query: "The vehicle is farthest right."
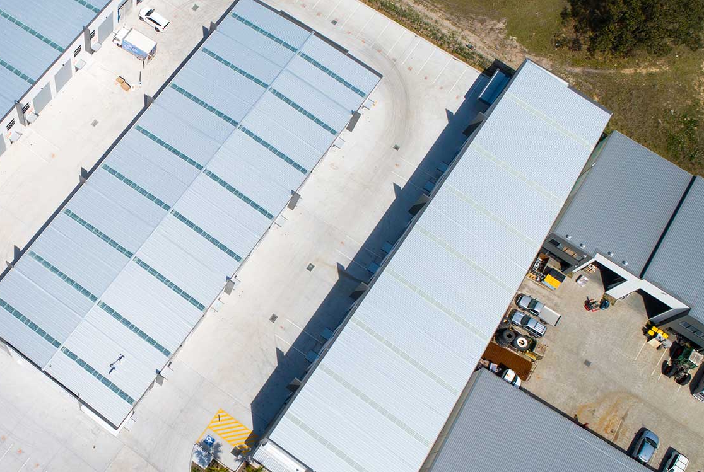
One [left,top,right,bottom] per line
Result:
[655,345,704,387]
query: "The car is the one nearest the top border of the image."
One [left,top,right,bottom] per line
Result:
[137,8,170,32]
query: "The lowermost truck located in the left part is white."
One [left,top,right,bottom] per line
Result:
[110,28,164,62]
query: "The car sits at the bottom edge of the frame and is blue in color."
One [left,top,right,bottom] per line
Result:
[628,429,659,464]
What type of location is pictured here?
industrial area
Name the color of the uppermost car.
white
